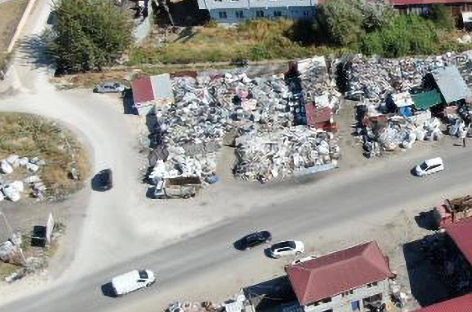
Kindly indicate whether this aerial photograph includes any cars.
Yes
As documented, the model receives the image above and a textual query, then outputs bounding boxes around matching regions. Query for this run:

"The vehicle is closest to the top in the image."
[93,81,125,96]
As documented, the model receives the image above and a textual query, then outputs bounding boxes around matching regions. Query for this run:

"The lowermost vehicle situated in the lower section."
[106,267,159,297]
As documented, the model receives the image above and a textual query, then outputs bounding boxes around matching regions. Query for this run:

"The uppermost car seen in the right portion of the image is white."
[412,152,448,178]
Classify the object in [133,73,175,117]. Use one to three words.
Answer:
shed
